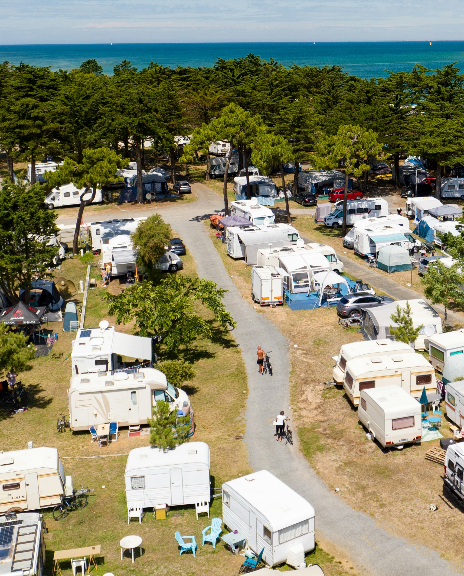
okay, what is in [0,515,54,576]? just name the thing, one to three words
camper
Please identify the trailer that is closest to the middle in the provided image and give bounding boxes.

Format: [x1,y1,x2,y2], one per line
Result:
[251,268,283,307]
